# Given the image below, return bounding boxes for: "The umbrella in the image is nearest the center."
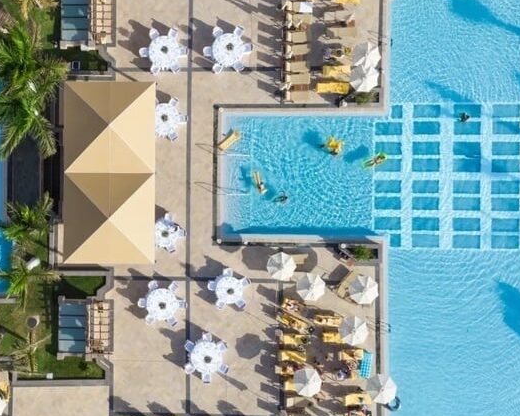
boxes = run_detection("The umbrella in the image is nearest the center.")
[266,247,297,278]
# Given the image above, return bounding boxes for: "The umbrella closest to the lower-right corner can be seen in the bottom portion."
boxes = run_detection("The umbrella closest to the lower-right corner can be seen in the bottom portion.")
[363,372,395,403]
